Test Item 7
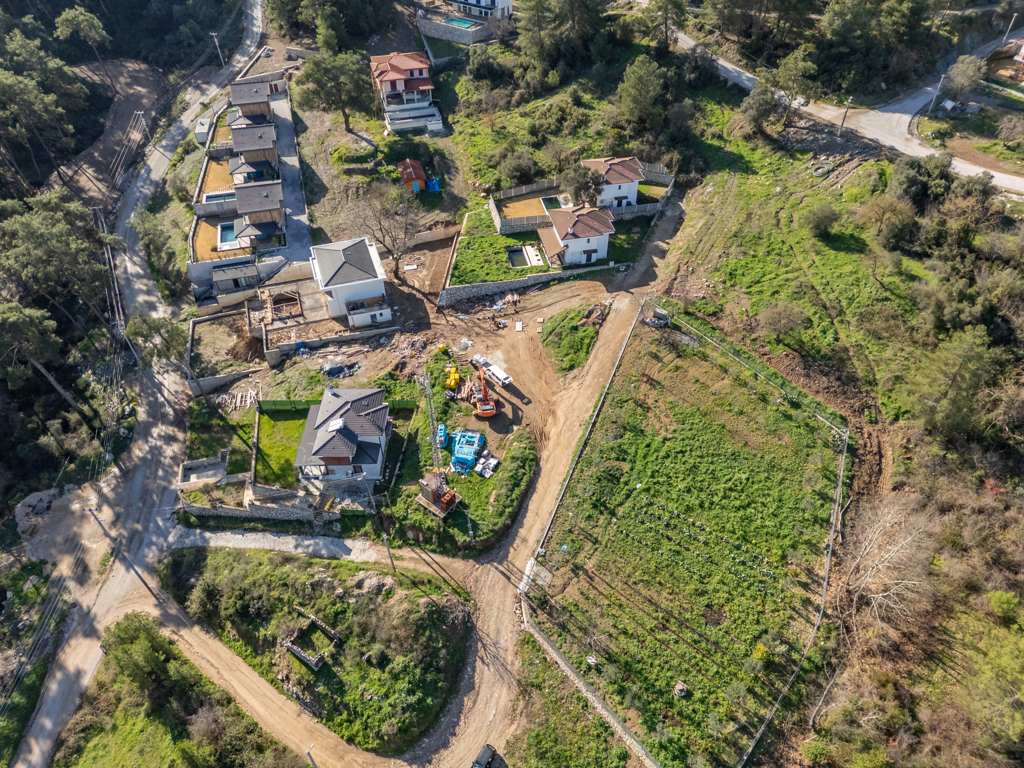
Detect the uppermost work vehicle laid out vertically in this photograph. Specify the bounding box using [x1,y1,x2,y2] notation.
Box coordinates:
[469,352,501,421]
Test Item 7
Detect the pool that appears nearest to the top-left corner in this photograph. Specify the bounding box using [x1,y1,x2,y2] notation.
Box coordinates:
[202,190,235,203]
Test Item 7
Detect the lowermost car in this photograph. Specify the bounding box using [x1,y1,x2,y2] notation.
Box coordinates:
[468,742,498,768]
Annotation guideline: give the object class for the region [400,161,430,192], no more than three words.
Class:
shed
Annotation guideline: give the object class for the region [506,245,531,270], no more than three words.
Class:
swimming pool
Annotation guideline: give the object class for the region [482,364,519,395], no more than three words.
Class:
truck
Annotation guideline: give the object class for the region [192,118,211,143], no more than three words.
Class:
building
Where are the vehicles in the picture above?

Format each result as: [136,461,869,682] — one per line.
[469,352,501,421]
[482,364,519,395]
[468,742,498,768]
